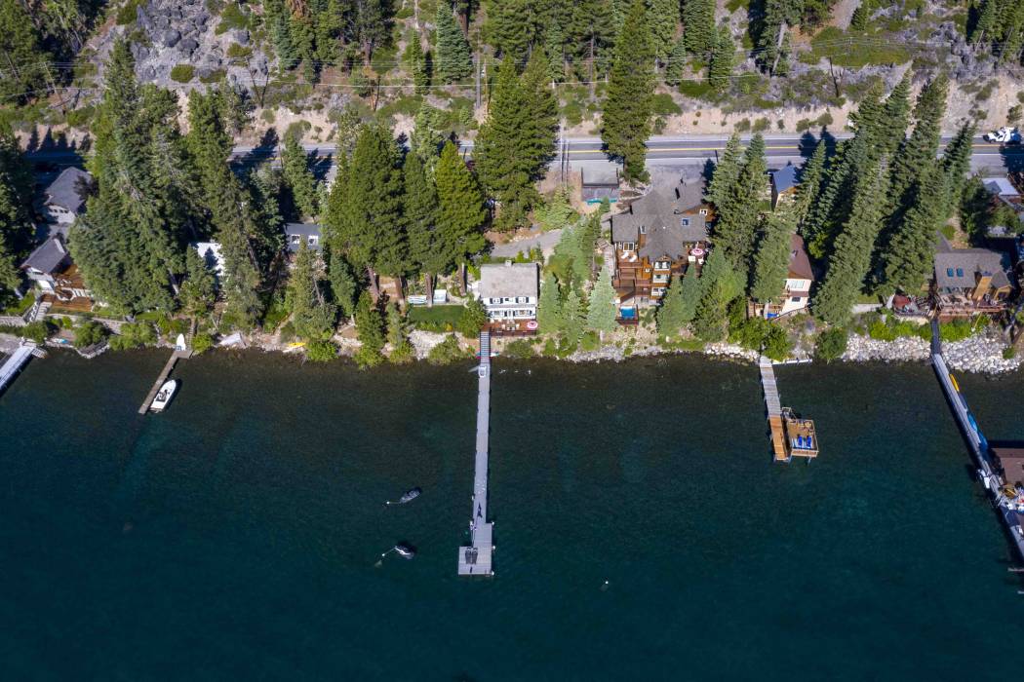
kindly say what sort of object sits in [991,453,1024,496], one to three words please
building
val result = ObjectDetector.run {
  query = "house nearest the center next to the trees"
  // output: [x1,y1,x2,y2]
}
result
[470,259,539,360]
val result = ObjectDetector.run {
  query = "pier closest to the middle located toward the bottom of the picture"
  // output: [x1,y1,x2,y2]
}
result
[457,358,495,579]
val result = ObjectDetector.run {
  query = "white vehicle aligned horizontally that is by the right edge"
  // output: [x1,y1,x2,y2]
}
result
[983,127,1023,143]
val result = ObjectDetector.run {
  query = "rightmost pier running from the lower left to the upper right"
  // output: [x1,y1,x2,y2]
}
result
[138,327,202,417]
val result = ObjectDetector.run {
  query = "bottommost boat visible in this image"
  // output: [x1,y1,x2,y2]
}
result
[385,545,416,562]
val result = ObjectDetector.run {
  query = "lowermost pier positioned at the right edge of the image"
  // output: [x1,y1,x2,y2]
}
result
[926,361,1024,584]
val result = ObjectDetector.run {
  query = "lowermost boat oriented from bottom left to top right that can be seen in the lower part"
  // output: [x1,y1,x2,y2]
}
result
[397,485,422,503]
